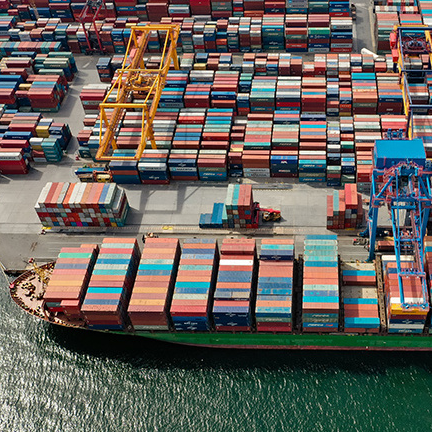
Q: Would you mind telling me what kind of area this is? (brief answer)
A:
port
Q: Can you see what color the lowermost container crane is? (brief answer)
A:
blue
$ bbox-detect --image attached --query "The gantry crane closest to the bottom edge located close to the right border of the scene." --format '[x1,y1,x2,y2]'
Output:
[357,128,432,310]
